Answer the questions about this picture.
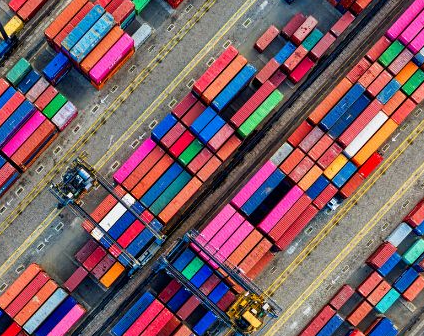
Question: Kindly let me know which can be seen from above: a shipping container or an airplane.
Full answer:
Visible in the photo is a shipping container.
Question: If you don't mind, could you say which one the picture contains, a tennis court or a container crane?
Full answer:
There is a container crane in the scene.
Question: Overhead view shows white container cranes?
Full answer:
No, no white container crane is visible in the scene.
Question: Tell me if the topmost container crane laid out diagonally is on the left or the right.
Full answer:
The topmost container crane laid out diagonally is on the left side of the image.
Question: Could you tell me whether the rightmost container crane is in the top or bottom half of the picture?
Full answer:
Seen from above, the rightmost container crane lies in the bottom half of the view.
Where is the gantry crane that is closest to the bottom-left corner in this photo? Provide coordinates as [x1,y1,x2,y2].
[51,155,170,275]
